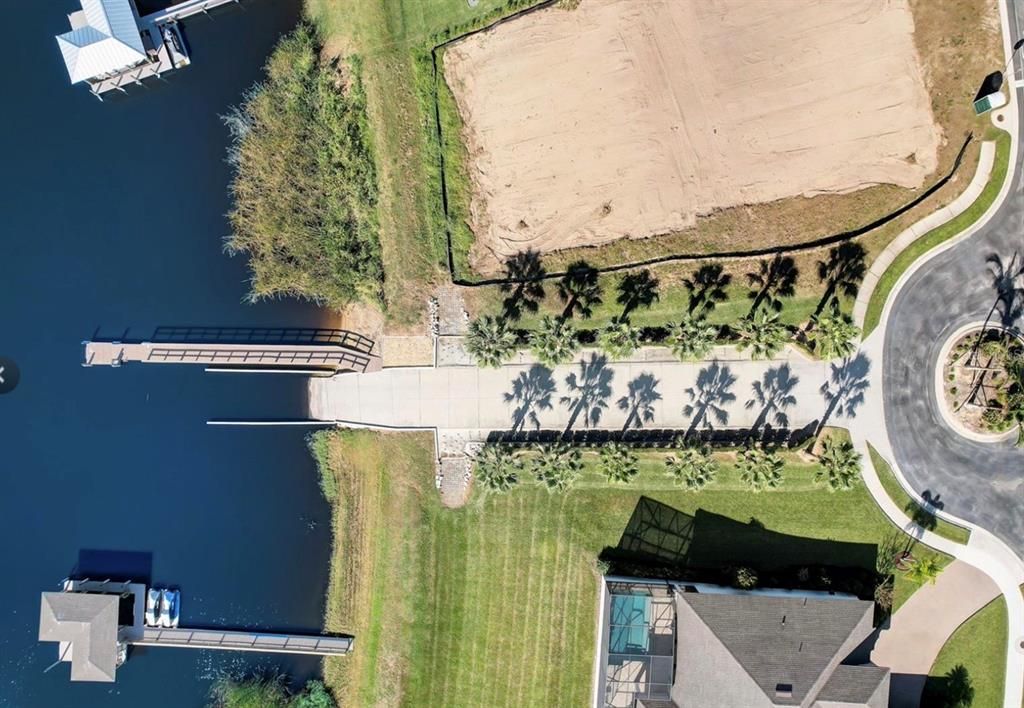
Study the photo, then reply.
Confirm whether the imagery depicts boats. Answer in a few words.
Yes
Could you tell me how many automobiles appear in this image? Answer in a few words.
zero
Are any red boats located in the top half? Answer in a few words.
No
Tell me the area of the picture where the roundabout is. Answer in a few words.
right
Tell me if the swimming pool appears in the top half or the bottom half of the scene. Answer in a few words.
bottom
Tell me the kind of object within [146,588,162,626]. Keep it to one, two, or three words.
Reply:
boat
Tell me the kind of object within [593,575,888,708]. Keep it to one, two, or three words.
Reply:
house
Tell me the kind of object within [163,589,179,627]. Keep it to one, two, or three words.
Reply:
boat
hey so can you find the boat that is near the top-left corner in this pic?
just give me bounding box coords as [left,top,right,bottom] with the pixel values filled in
[167,26,197,76]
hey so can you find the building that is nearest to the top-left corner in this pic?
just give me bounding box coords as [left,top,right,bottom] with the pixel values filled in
[55,0,198,93]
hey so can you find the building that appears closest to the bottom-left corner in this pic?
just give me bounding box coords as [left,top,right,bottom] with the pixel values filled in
[38,579,147,683]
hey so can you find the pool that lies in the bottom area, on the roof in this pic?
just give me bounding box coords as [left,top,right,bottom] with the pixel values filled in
[607,594,649,655]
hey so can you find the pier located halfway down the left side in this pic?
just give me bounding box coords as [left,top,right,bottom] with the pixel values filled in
[86,342,383,372]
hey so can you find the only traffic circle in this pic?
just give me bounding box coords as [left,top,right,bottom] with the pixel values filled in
[934,322,1024,442]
